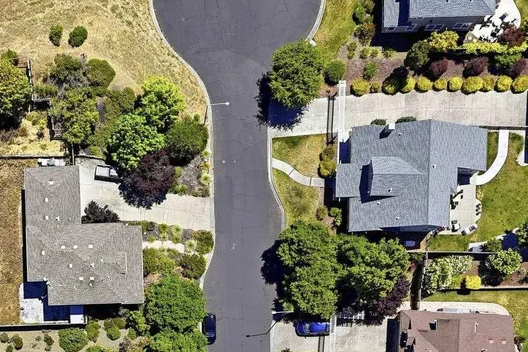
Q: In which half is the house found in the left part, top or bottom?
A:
bottom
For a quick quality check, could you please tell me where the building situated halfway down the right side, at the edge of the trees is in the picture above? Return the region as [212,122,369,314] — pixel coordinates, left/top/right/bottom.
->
[333,120,489,231]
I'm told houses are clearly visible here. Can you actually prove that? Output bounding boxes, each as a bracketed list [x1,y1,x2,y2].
[23,165,144,304]
[390,310,517,352]
[380,0,495,33]
[333,120,489,231]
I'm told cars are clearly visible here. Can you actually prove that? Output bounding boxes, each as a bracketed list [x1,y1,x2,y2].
[202,311,218,345]
[298,320,330,337]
